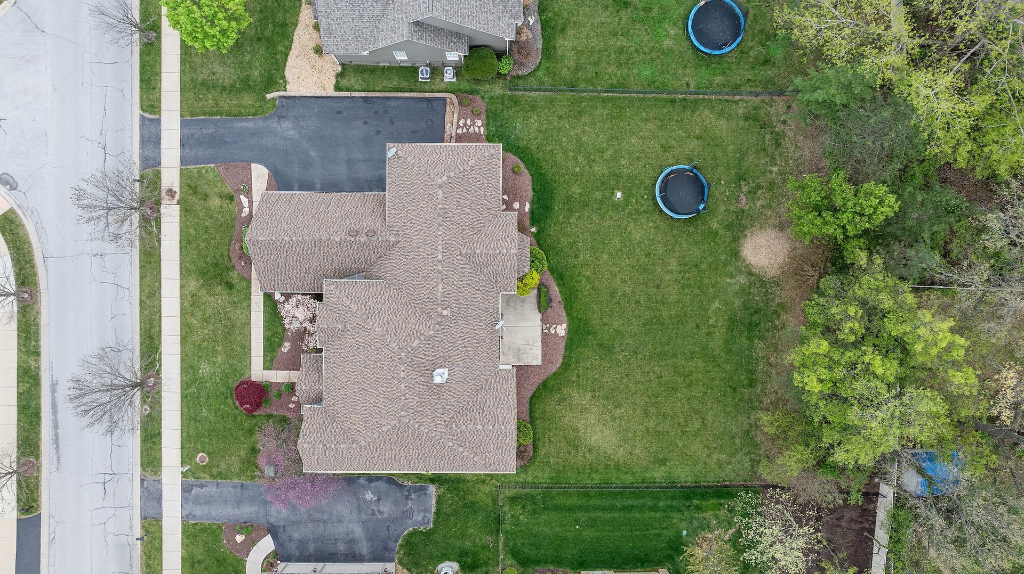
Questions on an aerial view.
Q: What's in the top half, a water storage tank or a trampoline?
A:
trampoline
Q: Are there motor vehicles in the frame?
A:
No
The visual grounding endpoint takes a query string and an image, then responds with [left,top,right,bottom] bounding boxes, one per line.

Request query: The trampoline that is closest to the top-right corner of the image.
[685,0,750,58]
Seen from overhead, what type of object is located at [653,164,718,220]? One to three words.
trampoline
